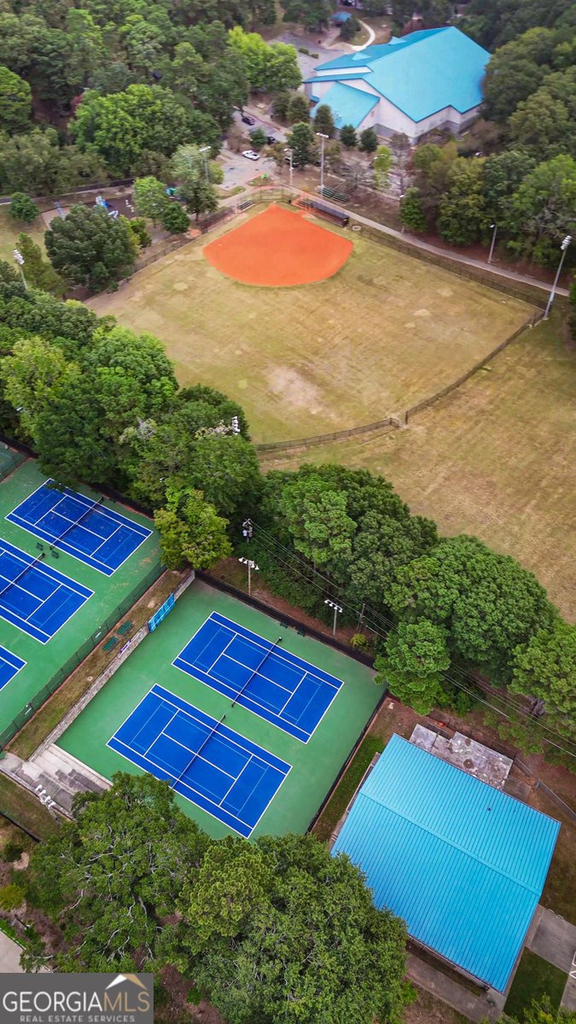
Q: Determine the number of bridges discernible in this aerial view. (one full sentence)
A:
The count of bridges is 0.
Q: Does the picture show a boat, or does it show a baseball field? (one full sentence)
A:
The one in the frame is a baseball field.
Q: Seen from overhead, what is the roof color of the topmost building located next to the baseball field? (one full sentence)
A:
The color of the roof on the topmost building located next to the baseball field is blue.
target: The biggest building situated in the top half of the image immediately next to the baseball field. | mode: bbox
[305,28,513,140]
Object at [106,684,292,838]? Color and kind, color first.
blue tennis court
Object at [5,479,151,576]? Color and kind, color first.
blue tennis court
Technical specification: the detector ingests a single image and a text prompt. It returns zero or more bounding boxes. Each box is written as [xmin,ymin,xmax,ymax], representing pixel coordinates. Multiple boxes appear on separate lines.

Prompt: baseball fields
[94,194,543,449]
